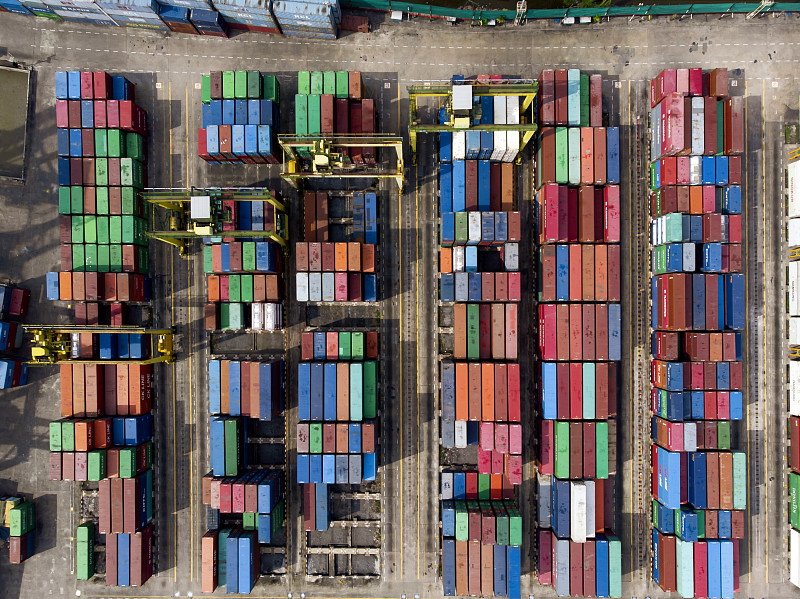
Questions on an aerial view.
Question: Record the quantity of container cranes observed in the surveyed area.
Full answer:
Looking from above, you can make out 4 container cranes.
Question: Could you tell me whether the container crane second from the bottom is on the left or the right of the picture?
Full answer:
The container crane second from the bottom sits on the left side.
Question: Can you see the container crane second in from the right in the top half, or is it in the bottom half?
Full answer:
Seen from above, the container crane second in from the right lies in the top half of the view.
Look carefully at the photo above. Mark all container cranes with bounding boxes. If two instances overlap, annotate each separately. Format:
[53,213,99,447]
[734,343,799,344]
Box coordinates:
[407,80,539,169]
[277,134,403,196]
[137,187,287,258]
[20,319,173,366]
